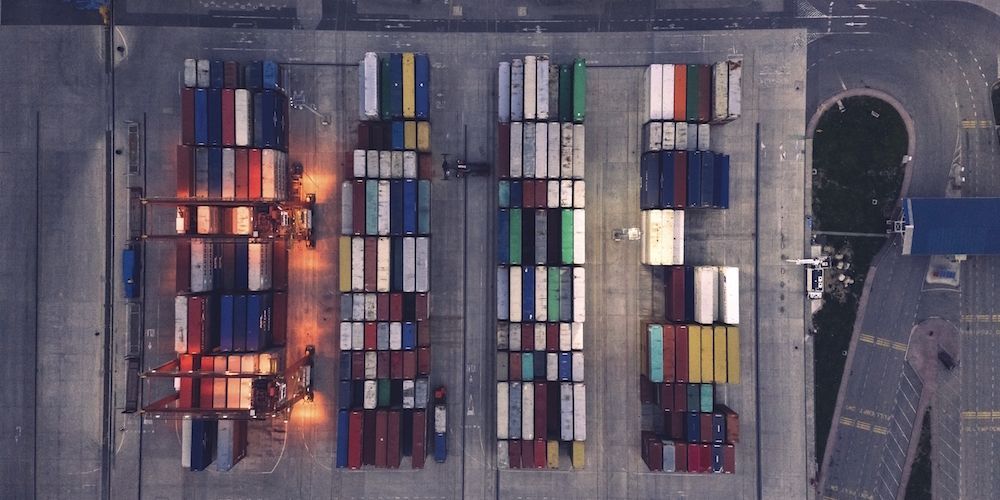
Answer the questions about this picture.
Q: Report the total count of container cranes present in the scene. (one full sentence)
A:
The photo contains 2 container cranes.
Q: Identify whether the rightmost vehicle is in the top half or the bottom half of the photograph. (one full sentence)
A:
The rightmost vehicle is in the bottom half of the image.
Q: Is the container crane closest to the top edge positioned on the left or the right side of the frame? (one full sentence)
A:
The container crane closest to the top edge appears in the left half of the scene.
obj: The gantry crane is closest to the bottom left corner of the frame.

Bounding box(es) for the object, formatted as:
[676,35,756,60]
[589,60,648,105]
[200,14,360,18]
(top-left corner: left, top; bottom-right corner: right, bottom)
[138,344,313,421]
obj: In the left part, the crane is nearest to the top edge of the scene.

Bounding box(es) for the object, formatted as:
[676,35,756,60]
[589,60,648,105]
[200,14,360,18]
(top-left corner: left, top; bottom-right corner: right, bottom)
[138,193,313,253]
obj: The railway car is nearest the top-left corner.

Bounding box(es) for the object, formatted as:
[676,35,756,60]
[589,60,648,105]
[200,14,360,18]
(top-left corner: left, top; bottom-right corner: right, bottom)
[127,119,142,178]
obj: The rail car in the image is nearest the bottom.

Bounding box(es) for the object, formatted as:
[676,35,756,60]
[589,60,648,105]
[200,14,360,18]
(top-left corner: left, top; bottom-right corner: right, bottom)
[126,355,141,413]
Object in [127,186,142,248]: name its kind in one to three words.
rail car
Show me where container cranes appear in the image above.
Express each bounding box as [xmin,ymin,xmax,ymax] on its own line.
[138,193,313,253]
[138,344,313,421]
